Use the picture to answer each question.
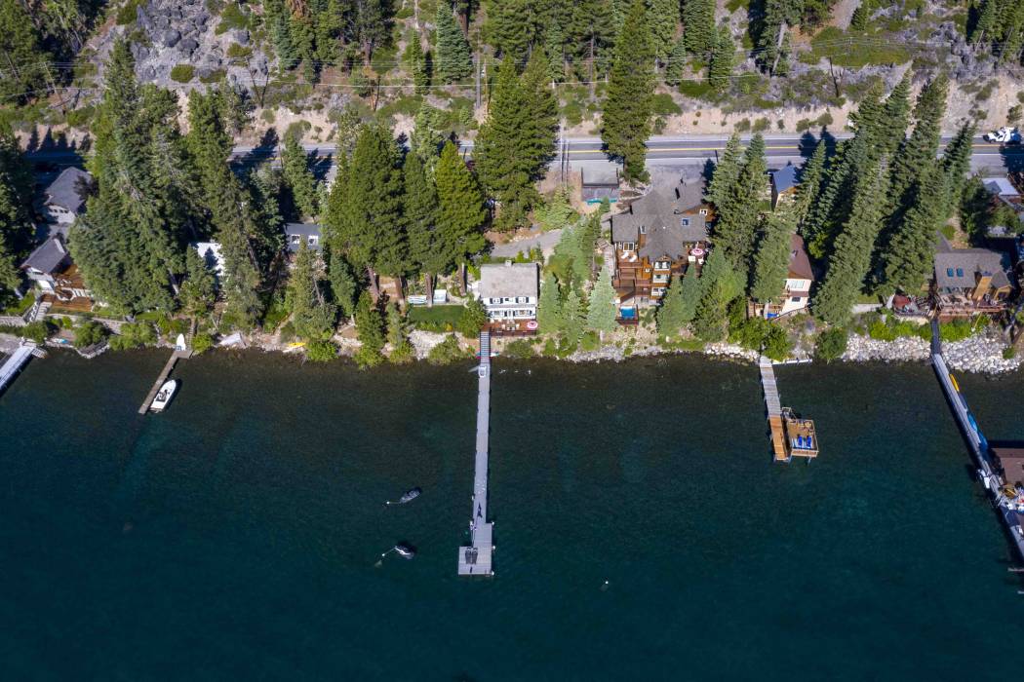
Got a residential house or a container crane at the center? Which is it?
residential house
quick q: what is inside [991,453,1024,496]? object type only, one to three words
building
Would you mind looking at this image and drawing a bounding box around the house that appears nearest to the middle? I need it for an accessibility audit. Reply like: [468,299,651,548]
[470,259,539,360]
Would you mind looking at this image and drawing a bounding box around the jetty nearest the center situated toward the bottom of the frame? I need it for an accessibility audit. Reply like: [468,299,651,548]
[457,358,495,579]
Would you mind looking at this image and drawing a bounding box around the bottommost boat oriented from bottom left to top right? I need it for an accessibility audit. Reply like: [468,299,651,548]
[397,485,422,503]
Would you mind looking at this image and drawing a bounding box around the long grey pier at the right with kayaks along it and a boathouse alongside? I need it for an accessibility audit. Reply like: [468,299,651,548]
[926,361,1024,584]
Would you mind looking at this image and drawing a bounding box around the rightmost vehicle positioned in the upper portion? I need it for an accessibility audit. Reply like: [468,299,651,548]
[983,127,1023,143]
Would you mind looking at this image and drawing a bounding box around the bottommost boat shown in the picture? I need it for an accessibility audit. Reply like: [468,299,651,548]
[385,545,416,562]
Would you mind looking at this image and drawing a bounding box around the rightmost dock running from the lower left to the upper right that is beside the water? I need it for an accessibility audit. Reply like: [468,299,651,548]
[138,327,202,417]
